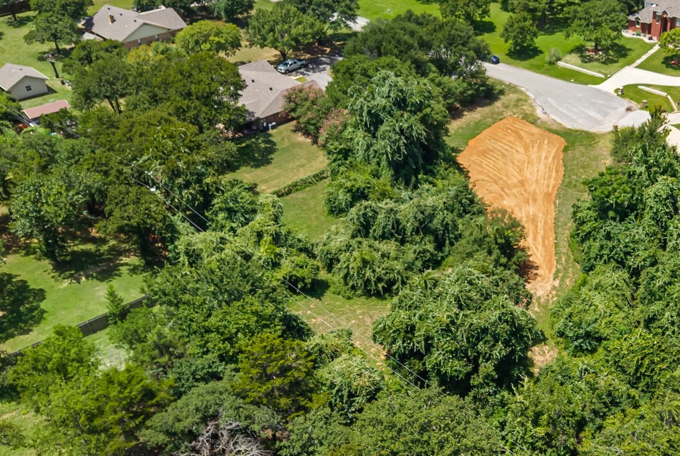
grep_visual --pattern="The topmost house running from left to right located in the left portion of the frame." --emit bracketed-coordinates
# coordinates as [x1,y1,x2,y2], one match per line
[74,2,186,54]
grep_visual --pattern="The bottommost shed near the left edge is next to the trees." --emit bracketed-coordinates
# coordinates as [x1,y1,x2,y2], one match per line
[21,100,74,128]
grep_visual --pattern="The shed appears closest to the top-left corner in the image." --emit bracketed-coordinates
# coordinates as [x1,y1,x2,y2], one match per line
[0,63,51,103]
